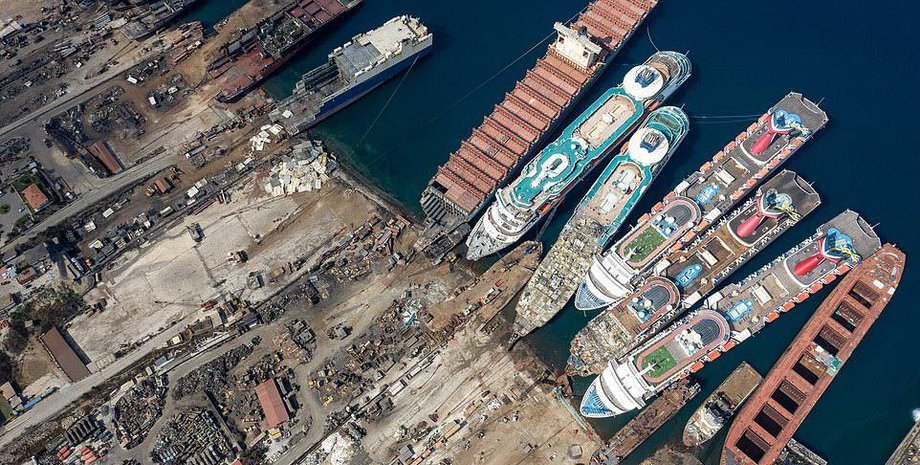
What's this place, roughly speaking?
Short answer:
port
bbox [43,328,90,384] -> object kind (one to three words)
shed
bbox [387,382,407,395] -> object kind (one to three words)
vehicle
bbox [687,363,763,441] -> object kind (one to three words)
ship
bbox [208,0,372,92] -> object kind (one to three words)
ship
